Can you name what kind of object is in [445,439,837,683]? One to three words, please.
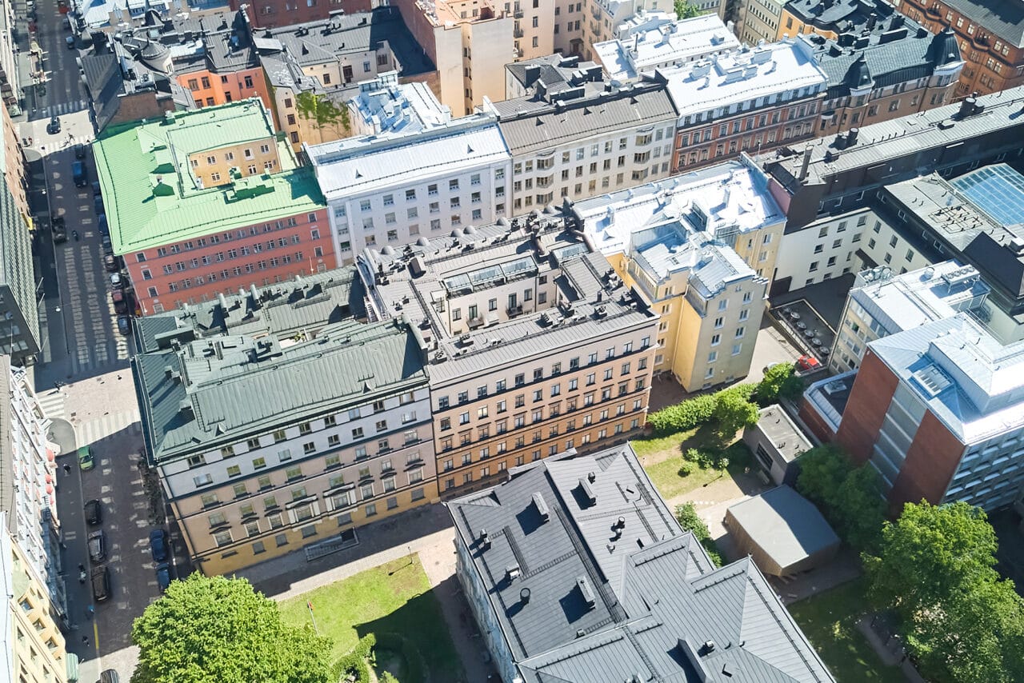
building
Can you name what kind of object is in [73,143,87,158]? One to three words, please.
car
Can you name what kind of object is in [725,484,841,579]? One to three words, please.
building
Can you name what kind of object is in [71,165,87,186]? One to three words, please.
vehicle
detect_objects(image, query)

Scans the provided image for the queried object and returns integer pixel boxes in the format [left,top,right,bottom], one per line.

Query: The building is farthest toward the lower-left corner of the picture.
[0,545,84,683]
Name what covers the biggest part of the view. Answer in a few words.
buildings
